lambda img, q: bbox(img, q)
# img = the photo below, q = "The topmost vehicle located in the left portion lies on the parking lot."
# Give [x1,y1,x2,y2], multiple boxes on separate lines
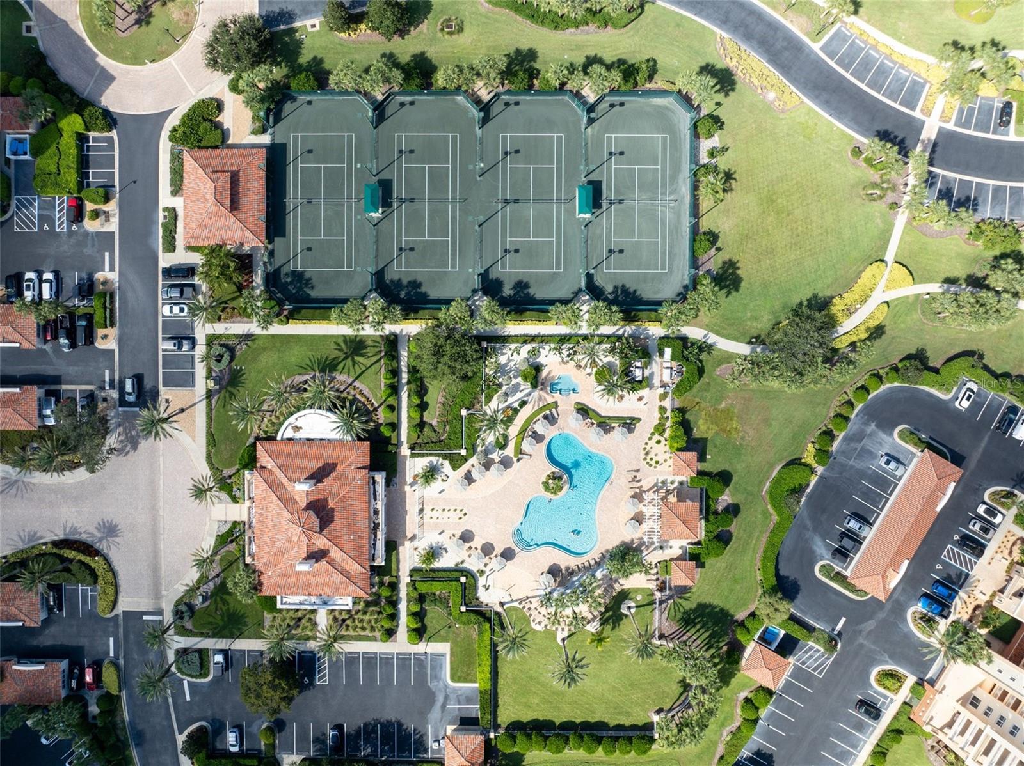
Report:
[64,198,80,225]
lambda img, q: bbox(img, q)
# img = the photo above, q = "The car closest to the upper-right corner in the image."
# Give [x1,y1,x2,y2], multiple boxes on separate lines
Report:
[998,98,1018,127]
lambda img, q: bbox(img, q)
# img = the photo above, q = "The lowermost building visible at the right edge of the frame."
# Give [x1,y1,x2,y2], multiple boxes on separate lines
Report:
[905,559,1024,766]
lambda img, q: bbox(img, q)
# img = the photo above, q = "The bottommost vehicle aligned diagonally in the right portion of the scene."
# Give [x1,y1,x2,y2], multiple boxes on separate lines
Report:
[856,699,885,721]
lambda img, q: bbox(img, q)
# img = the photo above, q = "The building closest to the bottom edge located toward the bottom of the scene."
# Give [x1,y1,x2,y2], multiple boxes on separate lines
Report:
[444,726,484,766]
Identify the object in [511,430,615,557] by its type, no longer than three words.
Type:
swimming pool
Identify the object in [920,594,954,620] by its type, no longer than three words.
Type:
truck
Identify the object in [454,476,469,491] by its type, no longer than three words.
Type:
umbrella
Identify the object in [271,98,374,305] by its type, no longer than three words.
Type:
tennis court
